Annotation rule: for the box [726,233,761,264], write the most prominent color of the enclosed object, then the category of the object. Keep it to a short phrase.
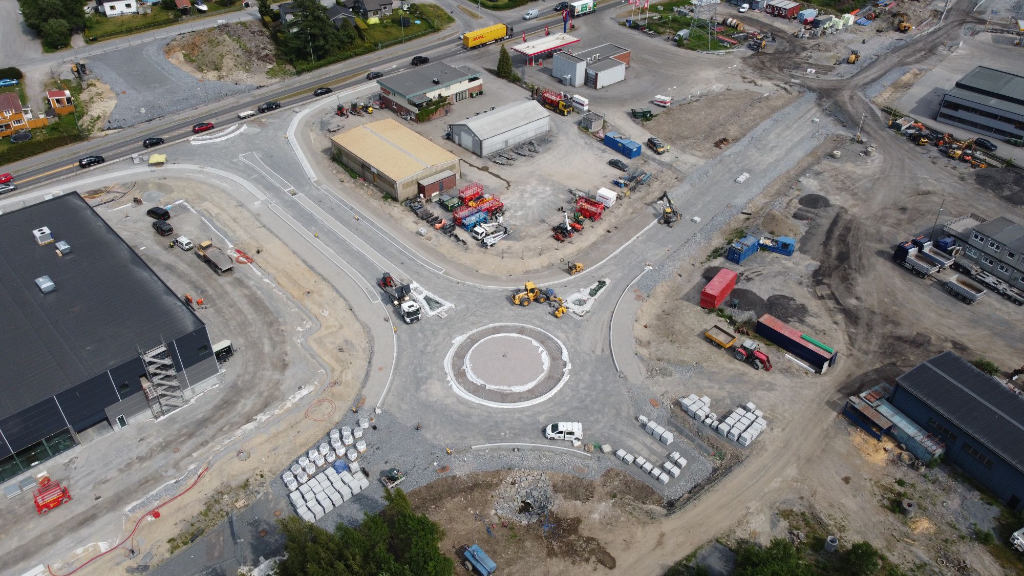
blue shipping container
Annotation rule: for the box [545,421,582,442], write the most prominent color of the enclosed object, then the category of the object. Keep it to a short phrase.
white vehicle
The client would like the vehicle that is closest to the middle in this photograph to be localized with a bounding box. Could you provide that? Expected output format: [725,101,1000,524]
[511,284,552,307]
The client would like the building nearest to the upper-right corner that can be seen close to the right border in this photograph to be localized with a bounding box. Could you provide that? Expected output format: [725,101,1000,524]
[936,68,1024,145]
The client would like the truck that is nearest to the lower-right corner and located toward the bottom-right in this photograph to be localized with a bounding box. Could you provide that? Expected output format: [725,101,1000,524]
[997,525,1024,567]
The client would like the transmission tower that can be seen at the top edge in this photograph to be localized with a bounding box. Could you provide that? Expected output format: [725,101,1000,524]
[684,0,717,50]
